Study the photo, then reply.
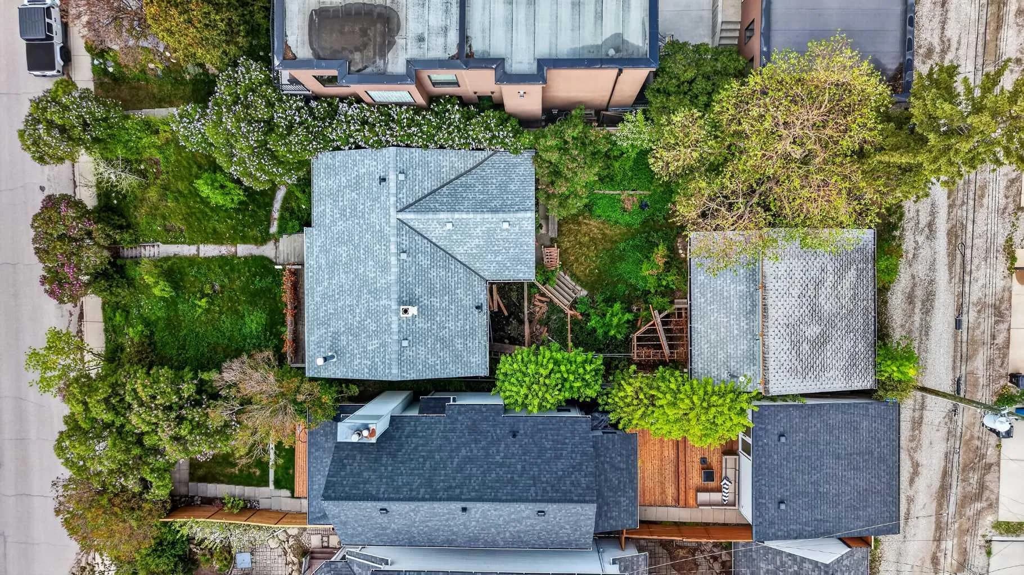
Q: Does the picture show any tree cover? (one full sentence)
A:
Yes, some tree cover is visible.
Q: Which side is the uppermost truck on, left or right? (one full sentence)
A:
The uppermost truck appears in the left half of the scene.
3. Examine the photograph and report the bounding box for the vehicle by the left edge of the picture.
[16,0,73,81]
